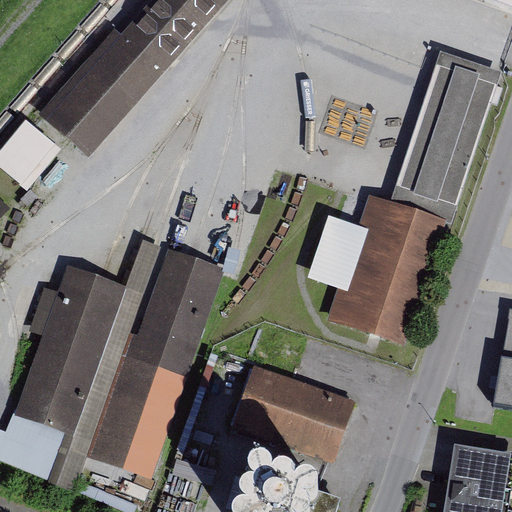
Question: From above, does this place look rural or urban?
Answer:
urban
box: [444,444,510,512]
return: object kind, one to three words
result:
house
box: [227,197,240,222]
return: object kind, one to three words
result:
vehicle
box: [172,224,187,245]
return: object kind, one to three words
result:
vehicle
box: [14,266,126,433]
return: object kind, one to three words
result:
building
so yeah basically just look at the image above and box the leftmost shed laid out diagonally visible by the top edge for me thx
[40,0,230,156]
